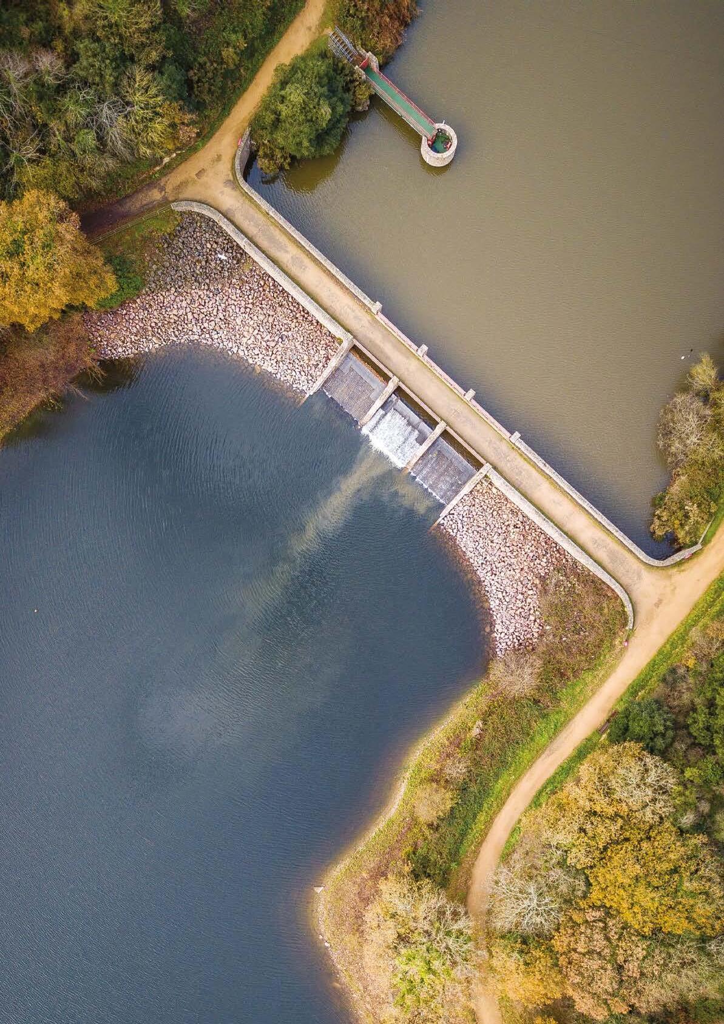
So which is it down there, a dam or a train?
dam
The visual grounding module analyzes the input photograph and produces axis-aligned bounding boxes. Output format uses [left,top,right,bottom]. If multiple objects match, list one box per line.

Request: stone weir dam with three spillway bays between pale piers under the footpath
[306,296,527,521]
